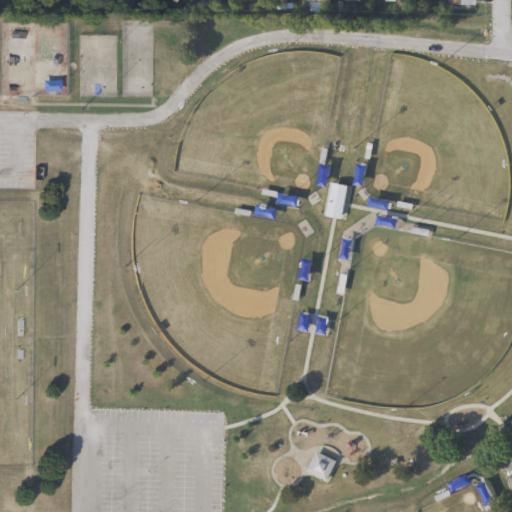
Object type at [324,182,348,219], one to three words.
building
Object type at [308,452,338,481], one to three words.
building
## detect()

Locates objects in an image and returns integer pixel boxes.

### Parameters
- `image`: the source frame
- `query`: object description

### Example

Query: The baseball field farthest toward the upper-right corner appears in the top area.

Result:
[362,53,510,222]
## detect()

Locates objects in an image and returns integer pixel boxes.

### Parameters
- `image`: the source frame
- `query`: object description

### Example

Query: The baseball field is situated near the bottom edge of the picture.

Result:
[411,485,486,512]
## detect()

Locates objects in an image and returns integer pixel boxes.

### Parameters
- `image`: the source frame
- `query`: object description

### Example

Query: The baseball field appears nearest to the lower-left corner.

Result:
[134,193,303,395]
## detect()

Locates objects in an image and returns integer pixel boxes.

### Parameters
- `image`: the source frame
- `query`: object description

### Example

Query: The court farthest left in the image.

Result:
[80,36,118,97]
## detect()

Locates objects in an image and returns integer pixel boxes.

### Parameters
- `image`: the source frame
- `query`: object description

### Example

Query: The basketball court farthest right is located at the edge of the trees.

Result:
[122,21,154,97]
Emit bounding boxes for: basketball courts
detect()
[80,36,118,97]
[122,21,154,97]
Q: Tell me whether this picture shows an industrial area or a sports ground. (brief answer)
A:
sports ground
